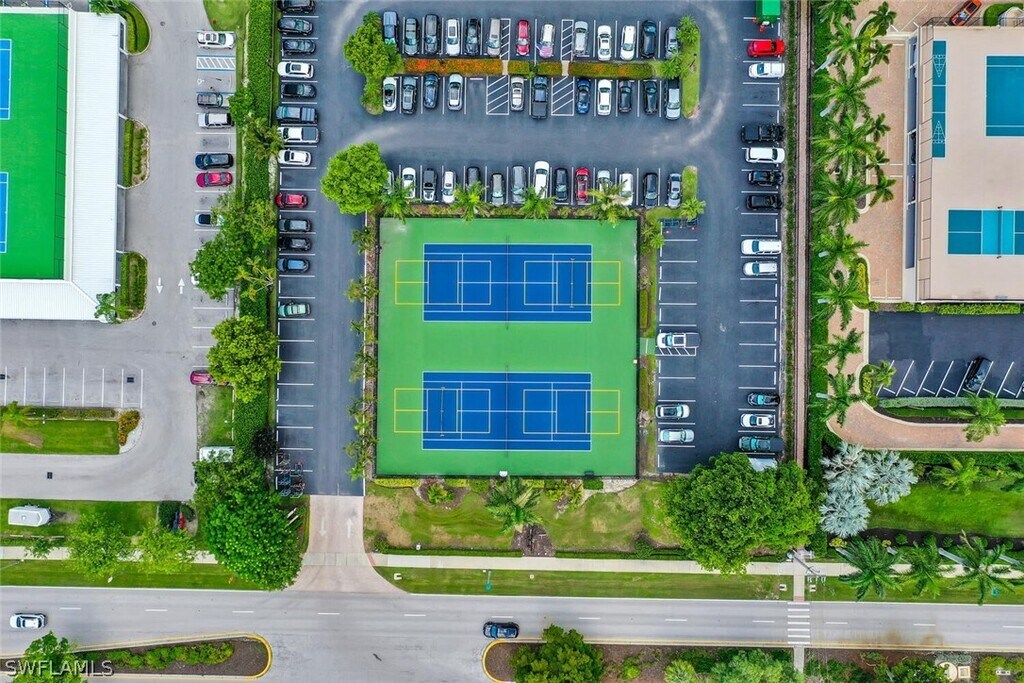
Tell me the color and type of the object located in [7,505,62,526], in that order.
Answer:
white trailer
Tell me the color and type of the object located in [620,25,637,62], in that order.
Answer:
white car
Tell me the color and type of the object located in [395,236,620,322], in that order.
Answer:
blue tennis court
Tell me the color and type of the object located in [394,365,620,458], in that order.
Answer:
blue tennis court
